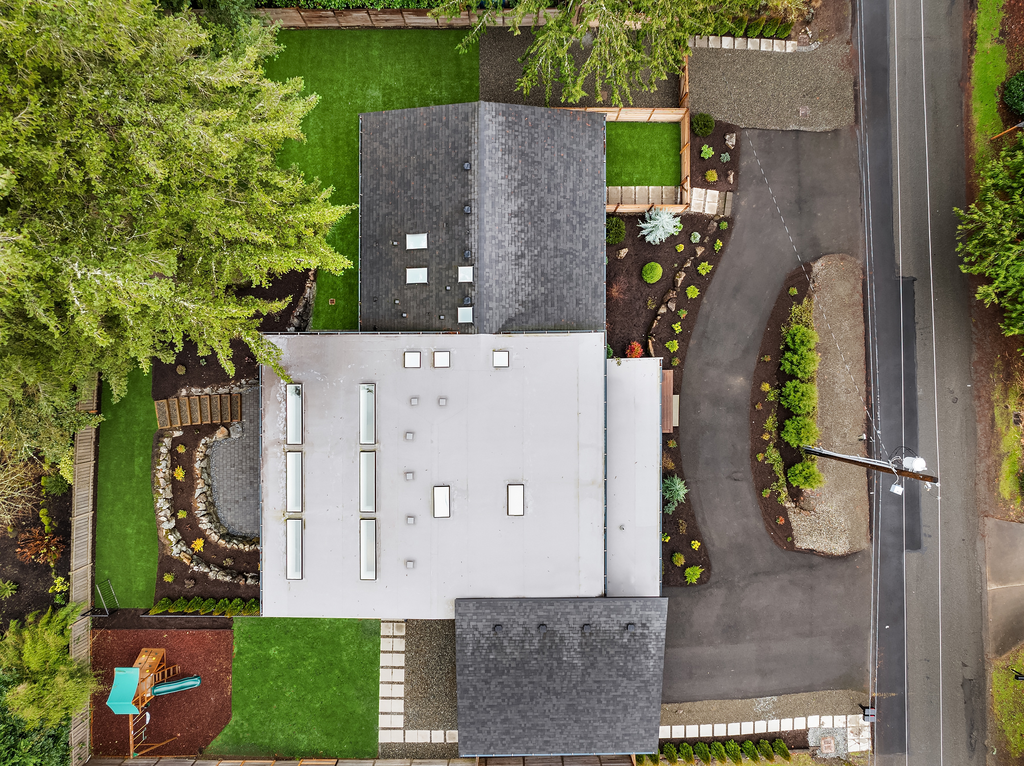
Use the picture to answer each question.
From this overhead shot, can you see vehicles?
No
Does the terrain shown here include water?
No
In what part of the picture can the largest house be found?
center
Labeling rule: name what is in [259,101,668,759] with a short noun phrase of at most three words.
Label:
house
